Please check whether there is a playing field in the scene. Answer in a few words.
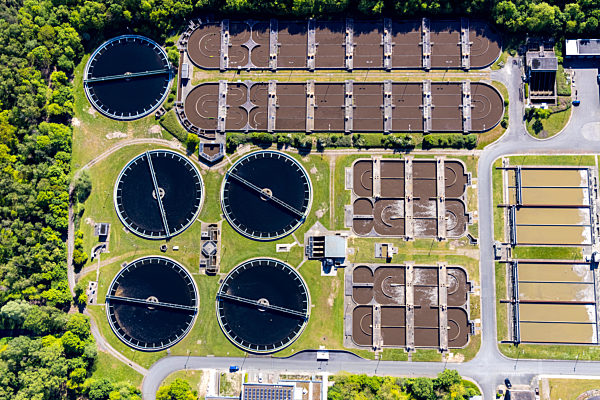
No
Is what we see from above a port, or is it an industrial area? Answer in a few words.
industrial area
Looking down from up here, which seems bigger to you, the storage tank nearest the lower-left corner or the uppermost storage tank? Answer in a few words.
the uppermost storage tank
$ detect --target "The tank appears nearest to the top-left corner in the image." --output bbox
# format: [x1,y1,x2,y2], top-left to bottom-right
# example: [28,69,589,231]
[83,36,175,121]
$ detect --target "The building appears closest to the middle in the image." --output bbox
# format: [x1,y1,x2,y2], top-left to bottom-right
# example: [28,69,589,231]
[305,235,346,258]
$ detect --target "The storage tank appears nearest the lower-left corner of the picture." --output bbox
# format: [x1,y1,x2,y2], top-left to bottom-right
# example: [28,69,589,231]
[105,255,201,352]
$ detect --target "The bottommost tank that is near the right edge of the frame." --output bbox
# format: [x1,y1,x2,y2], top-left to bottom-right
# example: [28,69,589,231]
[499,259,599,346]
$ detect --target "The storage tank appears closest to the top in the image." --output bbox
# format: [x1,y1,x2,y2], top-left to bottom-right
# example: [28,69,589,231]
[187,17,502,76]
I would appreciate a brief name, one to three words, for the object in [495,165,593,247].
storage tank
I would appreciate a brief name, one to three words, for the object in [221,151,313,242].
storage tank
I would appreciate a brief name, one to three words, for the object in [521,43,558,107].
building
